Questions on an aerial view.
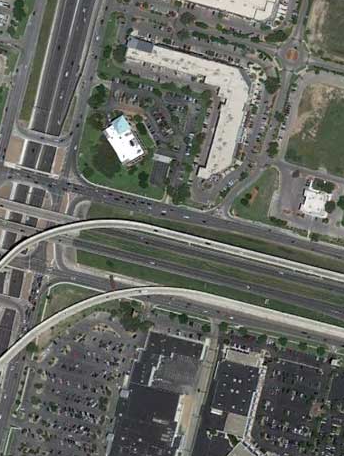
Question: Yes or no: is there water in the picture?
No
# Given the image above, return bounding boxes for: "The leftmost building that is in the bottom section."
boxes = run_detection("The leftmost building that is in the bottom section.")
[106,331,205,456]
